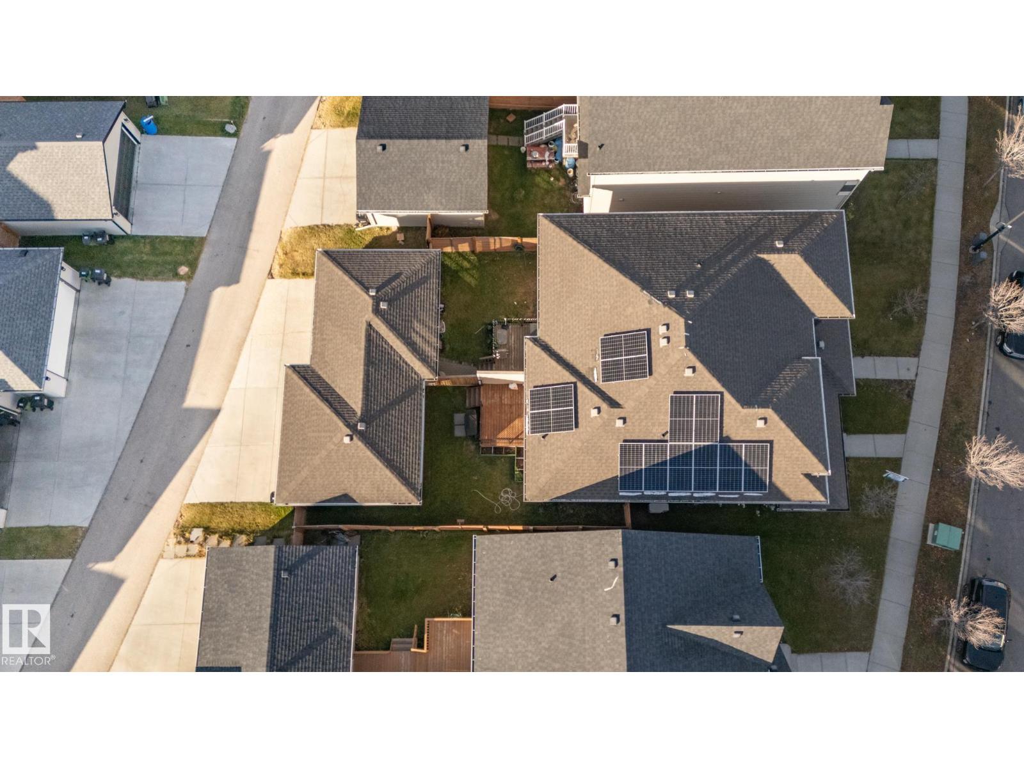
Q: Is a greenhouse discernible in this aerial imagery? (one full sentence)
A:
No, no greenhouse can be seen from above.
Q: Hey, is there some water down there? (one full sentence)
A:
No, no water is visible.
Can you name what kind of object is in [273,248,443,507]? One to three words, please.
building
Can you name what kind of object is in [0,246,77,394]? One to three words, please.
building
